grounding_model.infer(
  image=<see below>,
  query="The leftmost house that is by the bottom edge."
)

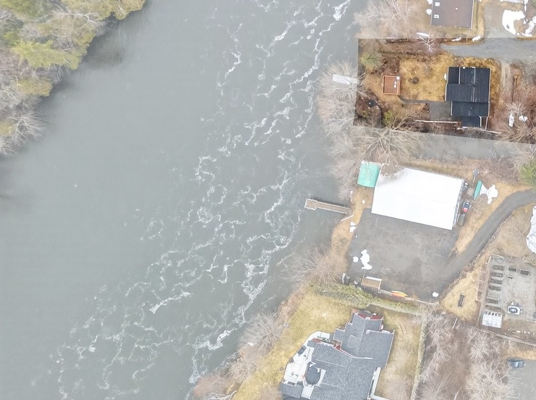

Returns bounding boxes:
[280,309,397,400]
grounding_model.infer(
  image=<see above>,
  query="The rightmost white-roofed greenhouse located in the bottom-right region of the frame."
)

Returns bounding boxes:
[482,310,502,328]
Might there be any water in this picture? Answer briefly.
Yes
